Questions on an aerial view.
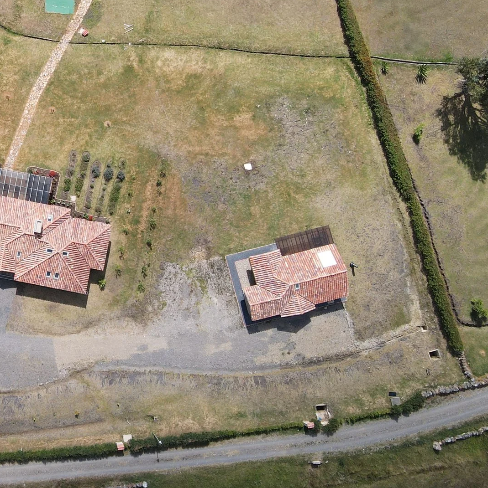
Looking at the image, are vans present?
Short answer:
No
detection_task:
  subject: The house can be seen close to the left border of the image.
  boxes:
[0,196,113,295]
